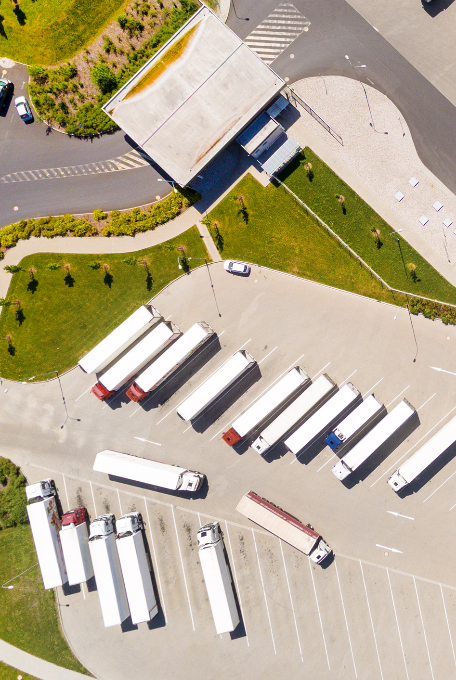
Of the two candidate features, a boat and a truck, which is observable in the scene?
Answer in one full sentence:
There is a truck in the scene.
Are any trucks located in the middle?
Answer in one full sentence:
Yes, a truck appears in the middle.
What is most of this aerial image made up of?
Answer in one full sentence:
The scene is dominated by paved ground.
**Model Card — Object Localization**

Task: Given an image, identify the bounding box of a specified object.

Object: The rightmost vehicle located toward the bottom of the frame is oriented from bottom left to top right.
[387,415,456,492]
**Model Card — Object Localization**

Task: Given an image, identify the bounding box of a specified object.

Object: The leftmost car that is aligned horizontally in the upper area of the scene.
[223,260,252,275]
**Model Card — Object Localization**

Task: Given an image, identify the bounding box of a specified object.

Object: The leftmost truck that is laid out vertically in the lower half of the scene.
[27,478,69,589]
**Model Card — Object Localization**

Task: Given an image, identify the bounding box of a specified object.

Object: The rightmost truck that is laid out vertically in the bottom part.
[196,522,239,634]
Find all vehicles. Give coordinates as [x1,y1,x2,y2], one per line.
[93,450,205,494]
[125,321,216,403]
[236,489,336,560]
[196,522,239,634]
[89,513,129,626]
[115,512,158,624]
[322,392,384,450]
[331,397,415,480]
[223,260,252,275]
[90,321,181,403]
[249,373,337,456]
[387,415,456,492]
[17,97,34,122]
[27,478,69,589]
[0,80,14,111]
[60,502,95,583]
[221,365,310,447]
